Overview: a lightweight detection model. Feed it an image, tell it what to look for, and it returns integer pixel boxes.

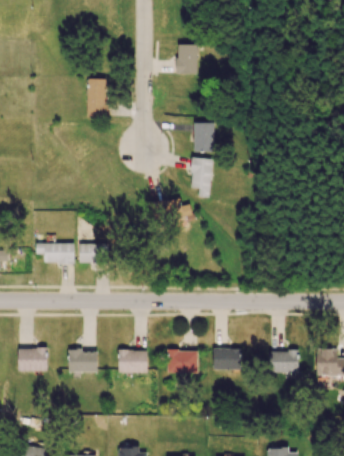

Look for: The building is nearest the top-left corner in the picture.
[88,78,107,117]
